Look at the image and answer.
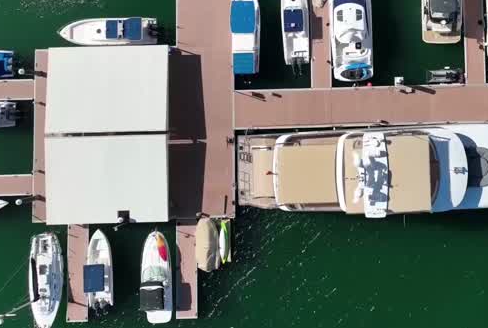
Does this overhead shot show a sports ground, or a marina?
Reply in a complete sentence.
What you see here is a marina.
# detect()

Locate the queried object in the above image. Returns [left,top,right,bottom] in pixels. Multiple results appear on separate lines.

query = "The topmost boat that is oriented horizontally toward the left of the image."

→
[57,16,164,45]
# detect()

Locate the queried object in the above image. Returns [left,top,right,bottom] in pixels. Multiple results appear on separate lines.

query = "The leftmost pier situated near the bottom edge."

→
[67,224,89,321]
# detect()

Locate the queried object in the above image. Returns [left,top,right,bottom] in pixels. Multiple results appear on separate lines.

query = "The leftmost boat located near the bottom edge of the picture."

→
[0,228,73,328]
